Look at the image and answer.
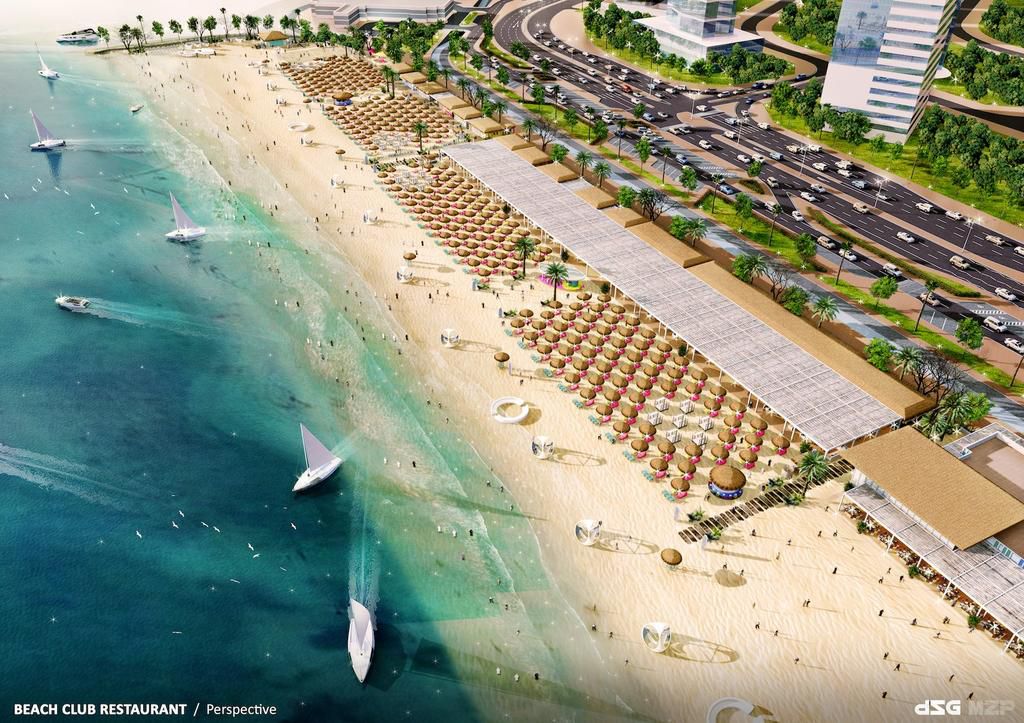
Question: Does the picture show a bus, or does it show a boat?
boat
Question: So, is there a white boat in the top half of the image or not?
Yes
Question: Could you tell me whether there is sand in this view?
Yes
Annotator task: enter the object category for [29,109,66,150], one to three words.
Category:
boat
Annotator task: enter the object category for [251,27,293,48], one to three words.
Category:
shed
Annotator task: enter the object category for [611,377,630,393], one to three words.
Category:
umbrella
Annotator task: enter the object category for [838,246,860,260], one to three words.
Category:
car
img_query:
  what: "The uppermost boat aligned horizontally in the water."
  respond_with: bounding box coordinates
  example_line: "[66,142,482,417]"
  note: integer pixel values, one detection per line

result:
[55,28,98,41]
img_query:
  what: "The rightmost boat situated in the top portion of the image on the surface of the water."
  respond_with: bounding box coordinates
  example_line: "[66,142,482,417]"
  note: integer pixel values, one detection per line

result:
[165,199,206,238]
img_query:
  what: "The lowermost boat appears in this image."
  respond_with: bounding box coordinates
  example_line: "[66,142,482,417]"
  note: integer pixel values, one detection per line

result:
[351,602,379,681]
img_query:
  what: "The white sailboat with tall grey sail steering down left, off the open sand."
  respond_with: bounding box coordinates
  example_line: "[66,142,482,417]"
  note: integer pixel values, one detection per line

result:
[292,429,344,491]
